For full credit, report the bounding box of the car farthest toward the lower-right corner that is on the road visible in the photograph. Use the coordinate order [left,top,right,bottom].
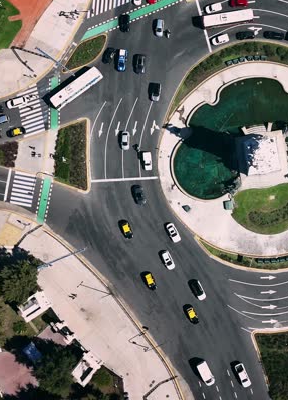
[236,363,250,386]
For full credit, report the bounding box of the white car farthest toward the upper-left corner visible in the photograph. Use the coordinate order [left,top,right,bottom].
[7,95,30,109]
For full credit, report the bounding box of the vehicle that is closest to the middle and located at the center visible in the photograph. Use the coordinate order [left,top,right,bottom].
[133,185,146,205]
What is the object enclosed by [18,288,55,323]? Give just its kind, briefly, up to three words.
building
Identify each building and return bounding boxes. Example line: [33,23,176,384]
[18,288,55,323]
[76,349,106,381]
